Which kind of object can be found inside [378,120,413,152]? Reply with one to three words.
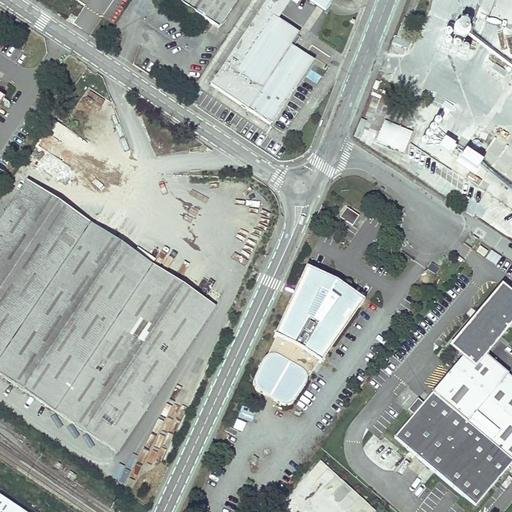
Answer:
building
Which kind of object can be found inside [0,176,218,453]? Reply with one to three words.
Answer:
warehouse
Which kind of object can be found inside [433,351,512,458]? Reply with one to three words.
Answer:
building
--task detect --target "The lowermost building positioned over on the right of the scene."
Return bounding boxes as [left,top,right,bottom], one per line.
[290,460,378,512]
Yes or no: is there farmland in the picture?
No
